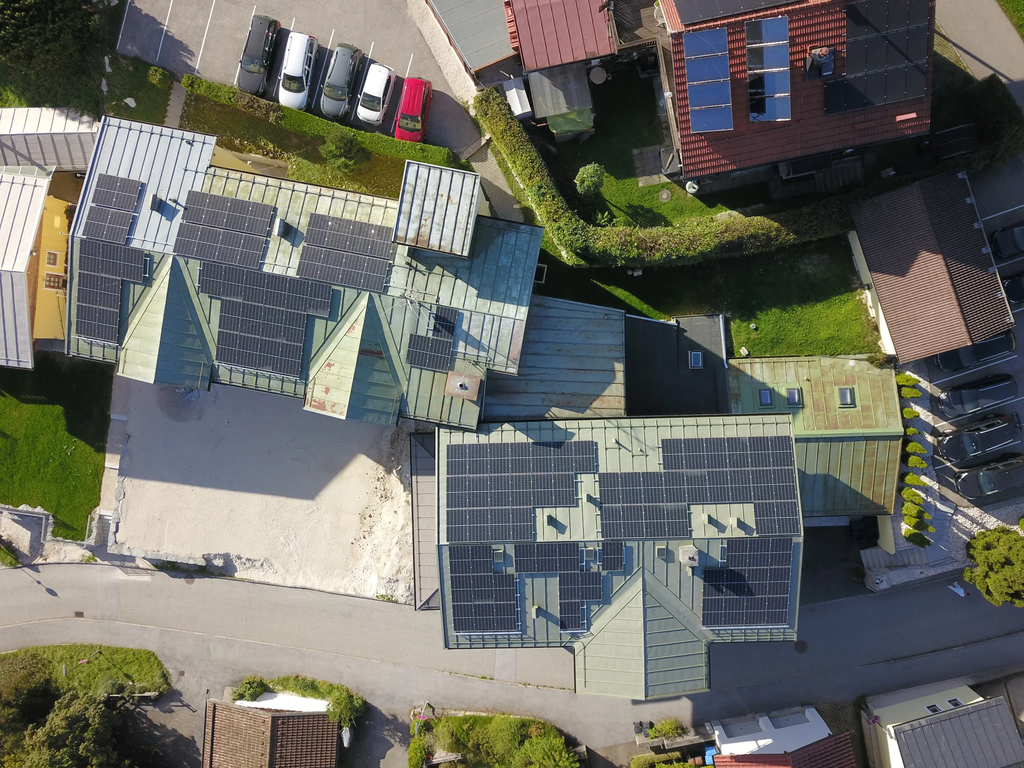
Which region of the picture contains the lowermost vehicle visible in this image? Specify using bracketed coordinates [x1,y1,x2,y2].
[952,449,1024,499]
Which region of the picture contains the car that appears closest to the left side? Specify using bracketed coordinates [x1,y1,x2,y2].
[232,12,283,96]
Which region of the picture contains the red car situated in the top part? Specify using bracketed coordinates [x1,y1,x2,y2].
[390,64,436,141]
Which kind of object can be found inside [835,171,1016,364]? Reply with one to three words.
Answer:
building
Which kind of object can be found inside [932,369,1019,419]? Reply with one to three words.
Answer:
car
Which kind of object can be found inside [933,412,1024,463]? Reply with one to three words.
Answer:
car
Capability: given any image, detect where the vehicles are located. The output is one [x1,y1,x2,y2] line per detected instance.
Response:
[932,369,1019,419]
[355,54,398,126]
[933,412,1024,463]
[1002,271,1024,305]
[932,328,1019,378]
[952,449,1024,499]
[275,24,323,107]
[317,39,365,120]
[390,64,436,141]
[232,12,283,96]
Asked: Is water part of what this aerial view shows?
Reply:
No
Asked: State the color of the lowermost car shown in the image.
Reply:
black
